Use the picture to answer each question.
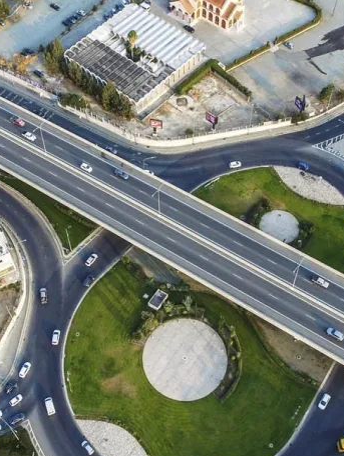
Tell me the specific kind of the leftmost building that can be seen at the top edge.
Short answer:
warehouse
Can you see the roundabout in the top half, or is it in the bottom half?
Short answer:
bottom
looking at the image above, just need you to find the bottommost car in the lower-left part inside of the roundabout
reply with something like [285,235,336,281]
[80,438,94,455]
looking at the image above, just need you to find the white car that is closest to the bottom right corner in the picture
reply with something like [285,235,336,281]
[317,393,330,409]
